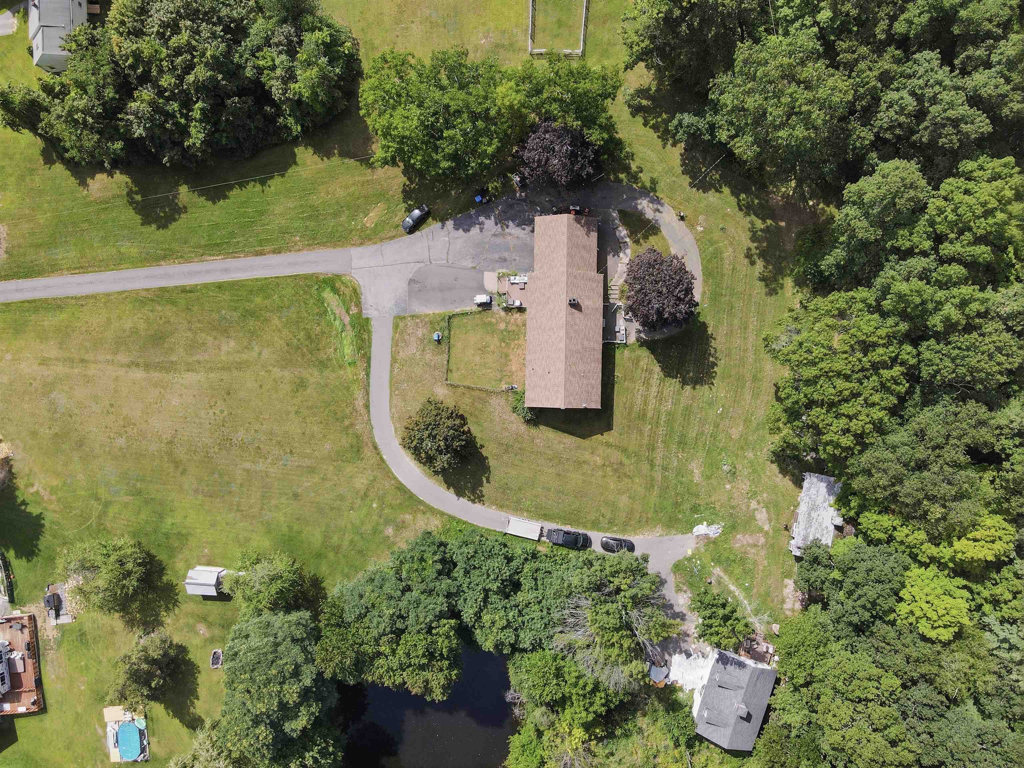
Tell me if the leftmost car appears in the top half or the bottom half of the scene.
top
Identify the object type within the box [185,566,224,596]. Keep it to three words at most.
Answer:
shed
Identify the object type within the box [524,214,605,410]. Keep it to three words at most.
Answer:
house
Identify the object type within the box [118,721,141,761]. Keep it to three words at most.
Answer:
swimming pool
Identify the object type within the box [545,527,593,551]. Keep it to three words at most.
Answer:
truck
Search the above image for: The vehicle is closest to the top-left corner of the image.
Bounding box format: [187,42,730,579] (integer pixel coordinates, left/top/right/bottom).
[399,201,430,235]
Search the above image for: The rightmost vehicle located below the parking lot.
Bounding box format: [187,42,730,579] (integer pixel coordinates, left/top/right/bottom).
[599,534,636,555]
